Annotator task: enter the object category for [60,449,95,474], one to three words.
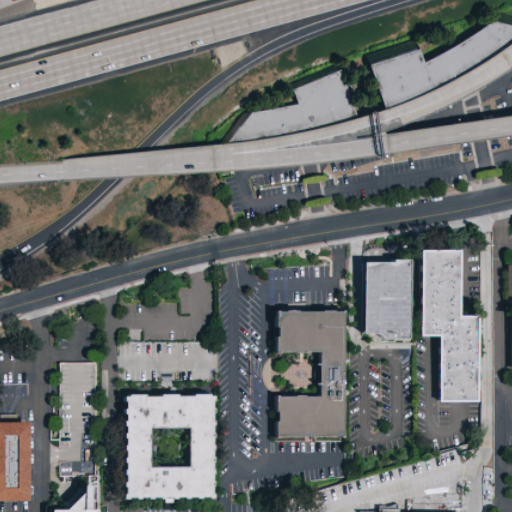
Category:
house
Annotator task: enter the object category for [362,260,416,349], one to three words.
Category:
building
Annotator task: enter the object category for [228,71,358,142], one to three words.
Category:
building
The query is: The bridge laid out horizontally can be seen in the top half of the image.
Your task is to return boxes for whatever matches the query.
[0,44,512,183]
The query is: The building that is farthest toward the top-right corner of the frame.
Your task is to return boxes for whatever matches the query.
[370,21,512,108]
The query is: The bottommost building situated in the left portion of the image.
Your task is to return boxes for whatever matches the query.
[51,474,100,512]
